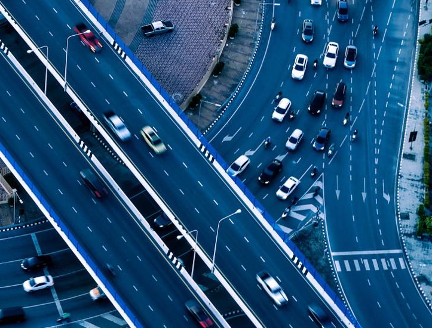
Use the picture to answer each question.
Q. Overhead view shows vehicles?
Yes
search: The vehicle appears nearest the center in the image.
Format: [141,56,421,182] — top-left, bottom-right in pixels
[232,155,250,174]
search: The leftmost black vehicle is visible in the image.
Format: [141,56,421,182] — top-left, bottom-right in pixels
[0,305,25,323]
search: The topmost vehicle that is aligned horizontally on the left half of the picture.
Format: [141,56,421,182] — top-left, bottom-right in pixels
[140,20,175,37]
